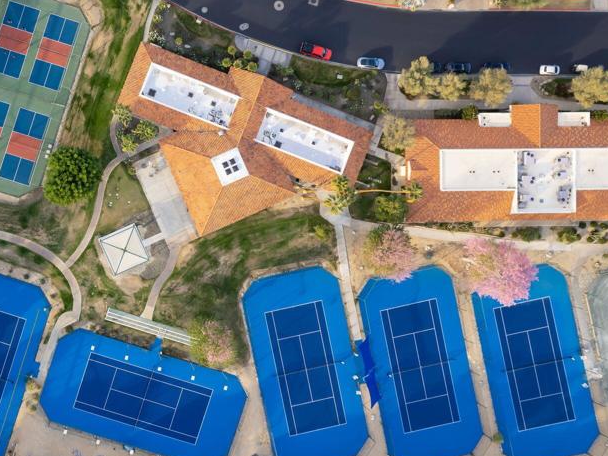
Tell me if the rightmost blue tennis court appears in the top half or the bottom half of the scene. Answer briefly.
bottom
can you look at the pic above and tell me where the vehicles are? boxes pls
[575,64,594,72]
[359,56,385,69]
[540,63,563,74]
[301,41,332,59]
[425,60,450,72]
[485,59,513,72]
